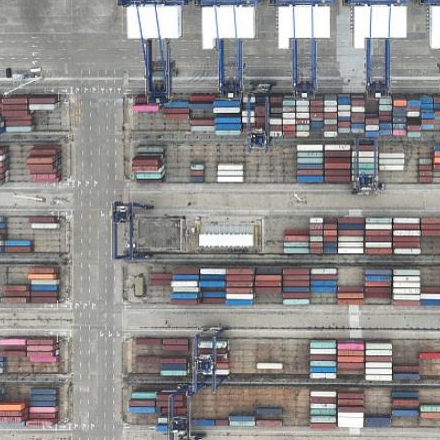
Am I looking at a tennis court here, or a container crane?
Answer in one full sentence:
There is a container crane in the scene.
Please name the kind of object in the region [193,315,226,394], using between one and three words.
container crane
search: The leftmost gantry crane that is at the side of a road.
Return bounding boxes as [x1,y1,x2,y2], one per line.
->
[111,188,148,261]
